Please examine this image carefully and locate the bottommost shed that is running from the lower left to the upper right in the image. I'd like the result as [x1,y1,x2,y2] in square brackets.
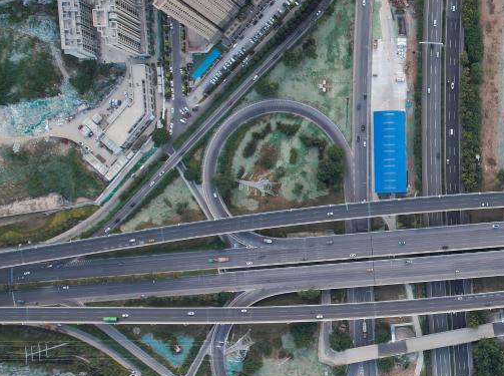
[105,142,148,184]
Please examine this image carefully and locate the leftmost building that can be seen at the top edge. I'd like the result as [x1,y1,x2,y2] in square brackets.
[52,0,110,65]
